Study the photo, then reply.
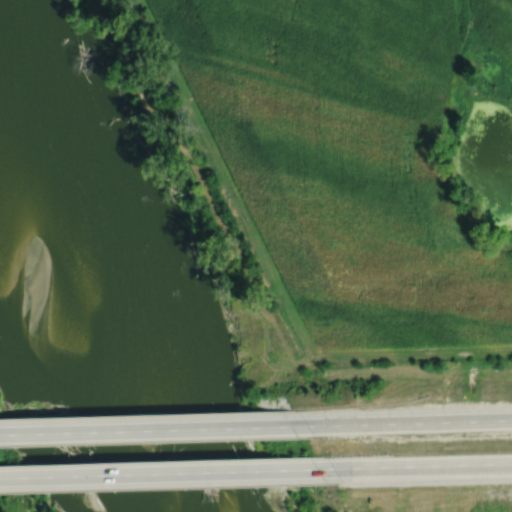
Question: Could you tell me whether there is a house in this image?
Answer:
No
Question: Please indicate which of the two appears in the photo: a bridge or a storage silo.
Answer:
bridge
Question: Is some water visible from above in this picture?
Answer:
Yes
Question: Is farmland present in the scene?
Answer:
Yes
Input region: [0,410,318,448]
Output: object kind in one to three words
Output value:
bridge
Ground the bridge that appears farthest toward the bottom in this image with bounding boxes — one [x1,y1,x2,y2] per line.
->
[0,458,340,495]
